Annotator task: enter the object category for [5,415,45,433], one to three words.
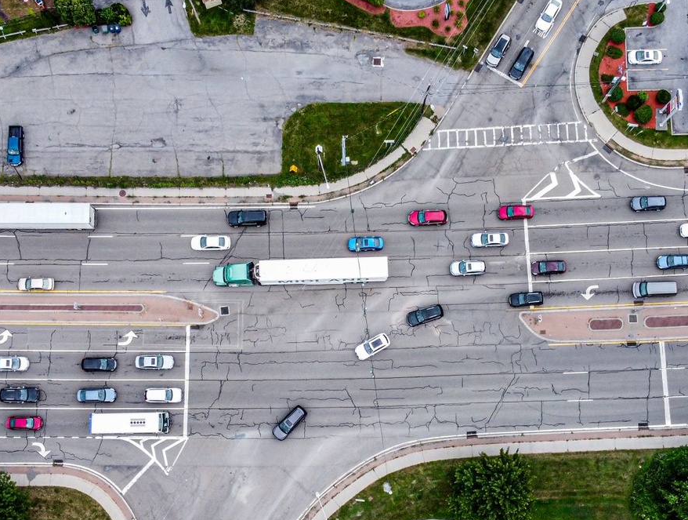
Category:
car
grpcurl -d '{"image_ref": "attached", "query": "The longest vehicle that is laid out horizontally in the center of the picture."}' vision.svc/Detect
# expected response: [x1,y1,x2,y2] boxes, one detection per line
[212,257,389,287]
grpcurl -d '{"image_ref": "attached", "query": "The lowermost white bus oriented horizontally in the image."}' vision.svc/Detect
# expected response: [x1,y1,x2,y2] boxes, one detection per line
[87,411,175,434]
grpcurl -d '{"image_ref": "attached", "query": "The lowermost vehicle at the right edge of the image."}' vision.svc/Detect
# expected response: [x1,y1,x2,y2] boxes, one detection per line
[630,280,680,298]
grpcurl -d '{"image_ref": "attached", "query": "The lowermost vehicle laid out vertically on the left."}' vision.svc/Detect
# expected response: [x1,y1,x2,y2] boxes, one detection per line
[4,124,25,168]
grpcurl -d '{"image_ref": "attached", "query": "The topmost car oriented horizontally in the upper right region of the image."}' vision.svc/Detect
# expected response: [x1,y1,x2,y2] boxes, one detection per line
[626,48,663,66]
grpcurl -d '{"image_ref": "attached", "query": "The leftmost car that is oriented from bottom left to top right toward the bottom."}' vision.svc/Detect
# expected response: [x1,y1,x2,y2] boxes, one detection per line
[272,402,308,443]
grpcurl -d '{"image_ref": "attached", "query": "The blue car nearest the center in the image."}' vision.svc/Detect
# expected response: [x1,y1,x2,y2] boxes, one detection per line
[347,235,384,252]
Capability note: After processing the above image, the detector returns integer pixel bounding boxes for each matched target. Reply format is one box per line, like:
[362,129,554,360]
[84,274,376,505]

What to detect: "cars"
[483,30,514,70]
[532,0,565,38]
[80,356,119,374]
[0,385,42,404]
[407,207,447,226]
[626,48,663,66]
[0,355,32,373]
[496,204,534,221]
[354,330,392,361]
[469,231,509,248]
[5,415,45,433]
[227,209,267,227]
[405,303,445,327]
[507,291,543,309]
[654,253,688,271]
[529,258,567,276]
[507,43,537,84]
[628,194,668,212]
[676,223,688,238]
[135,354,176,372]
[18,274,56,292]
[272,402,308,443]
[449,258,487,277]
[145,386,183,405]
[76,386,118,405]
[191,234,230,251]
[347,235,384,252]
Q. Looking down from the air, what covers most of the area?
paved ground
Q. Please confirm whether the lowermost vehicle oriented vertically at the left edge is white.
No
